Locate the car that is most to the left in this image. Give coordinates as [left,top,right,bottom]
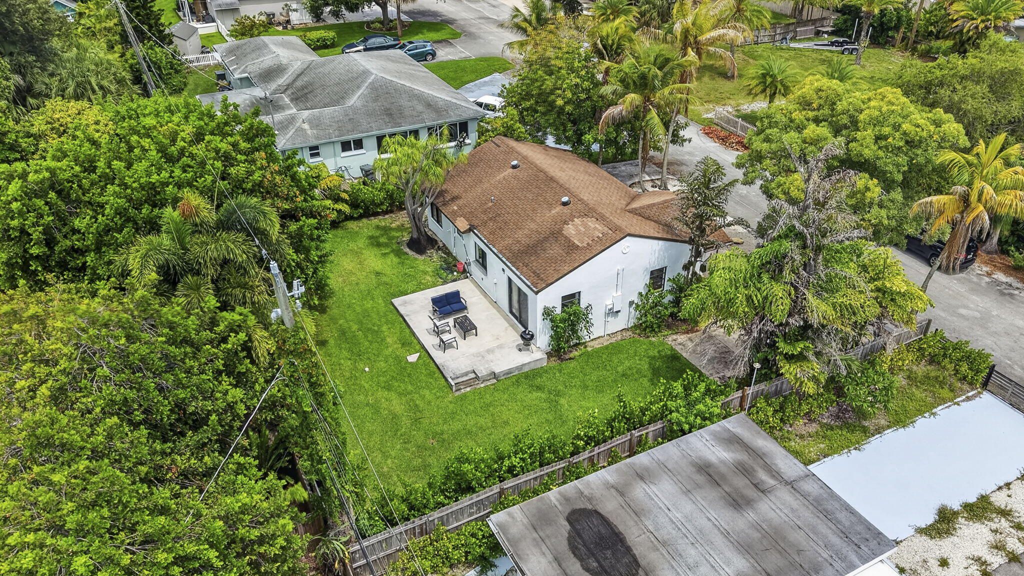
[343,32,396,53]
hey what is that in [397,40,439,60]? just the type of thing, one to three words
car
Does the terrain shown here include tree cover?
Yes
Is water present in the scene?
No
